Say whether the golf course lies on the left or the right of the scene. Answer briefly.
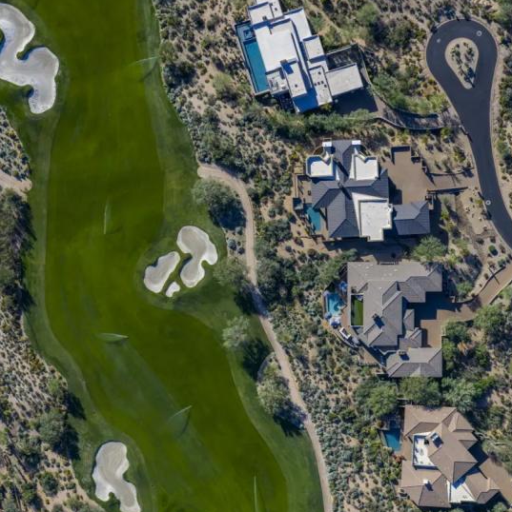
left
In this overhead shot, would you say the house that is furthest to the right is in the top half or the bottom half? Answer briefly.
bottom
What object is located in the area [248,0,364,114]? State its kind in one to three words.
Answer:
house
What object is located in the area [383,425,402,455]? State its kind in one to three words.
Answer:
swimming pool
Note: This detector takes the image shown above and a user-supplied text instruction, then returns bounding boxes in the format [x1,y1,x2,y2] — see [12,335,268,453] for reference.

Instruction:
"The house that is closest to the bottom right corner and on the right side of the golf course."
[400,405,500,509]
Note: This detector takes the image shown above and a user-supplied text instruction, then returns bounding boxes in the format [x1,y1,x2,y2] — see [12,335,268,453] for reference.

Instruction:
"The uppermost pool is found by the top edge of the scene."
[234,19,257,42]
